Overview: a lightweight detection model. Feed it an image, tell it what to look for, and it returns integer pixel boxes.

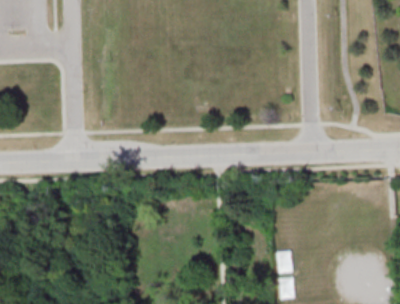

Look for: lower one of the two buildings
[278,276,297,301]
